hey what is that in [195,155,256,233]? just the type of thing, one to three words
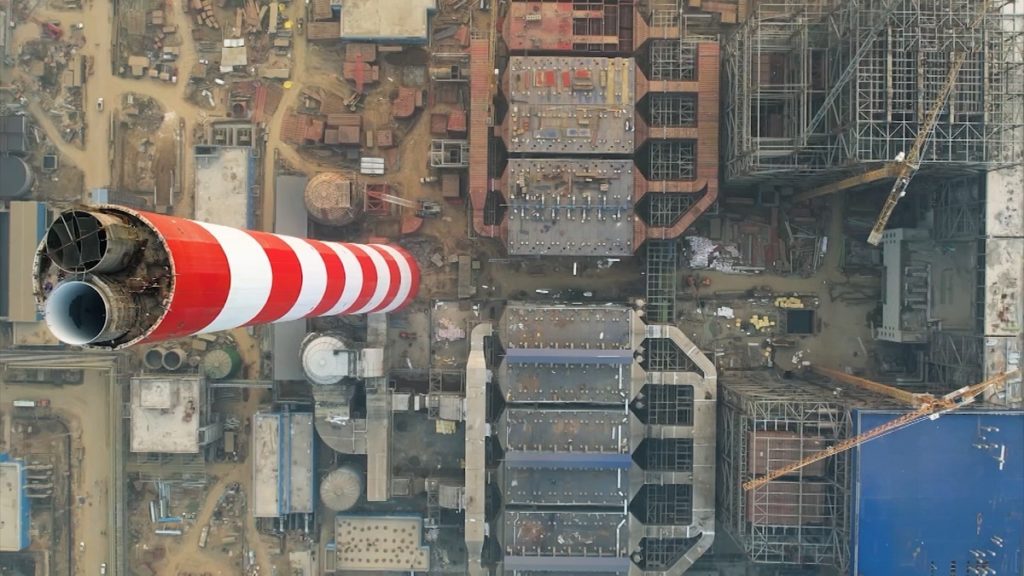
building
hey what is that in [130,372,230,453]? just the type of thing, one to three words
building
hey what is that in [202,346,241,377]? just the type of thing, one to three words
storage tank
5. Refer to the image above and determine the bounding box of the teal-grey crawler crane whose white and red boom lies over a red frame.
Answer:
[358,197,439,215]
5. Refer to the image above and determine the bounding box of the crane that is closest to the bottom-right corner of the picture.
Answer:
[742,358,1024,491]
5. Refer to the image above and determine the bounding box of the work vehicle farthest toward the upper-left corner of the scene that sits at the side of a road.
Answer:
[36,20,59,35]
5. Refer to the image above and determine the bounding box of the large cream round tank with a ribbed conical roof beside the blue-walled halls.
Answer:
[319,462,366,510]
